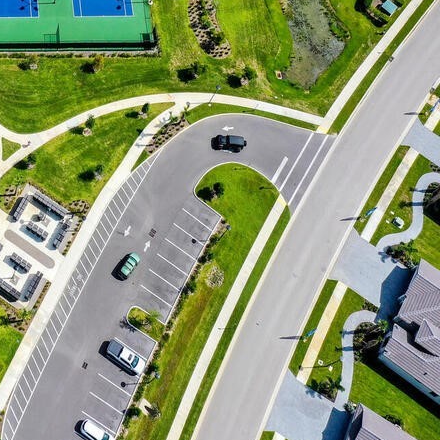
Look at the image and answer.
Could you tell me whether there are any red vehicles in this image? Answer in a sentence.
No, no red vehicle is visible in the scene.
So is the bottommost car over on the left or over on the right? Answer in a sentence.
The bottommost car sits on the left side.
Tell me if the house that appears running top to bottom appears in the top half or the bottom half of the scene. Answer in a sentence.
The house that appears running top to bottom is in the bottom half of the image.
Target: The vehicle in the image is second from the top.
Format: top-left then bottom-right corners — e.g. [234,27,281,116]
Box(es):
[120,250,140,277]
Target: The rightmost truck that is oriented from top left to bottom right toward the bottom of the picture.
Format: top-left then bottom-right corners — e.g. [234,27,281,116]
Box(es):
[109,338,147,373]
